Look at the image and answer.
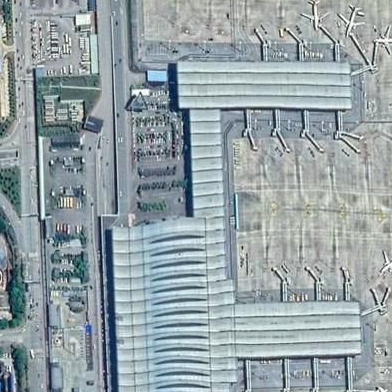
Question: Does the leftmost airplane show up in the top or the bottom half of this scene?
top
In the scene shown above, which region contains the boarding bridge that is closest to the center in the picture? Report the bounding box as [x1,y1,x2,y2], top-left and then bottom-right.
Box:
[245,109,257,150]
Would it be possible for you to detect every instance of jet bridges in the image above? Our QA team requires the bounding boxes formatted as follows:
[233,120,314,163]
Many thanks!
[304,266,321,302]
[245,359,250,392]
[254,27,267,60]
[301,110,324,153]
[318,23,339,60]
[335,110,365,154]
[270,266,286,303]
[360,287,390,317]
[284,26,303,60]
[347,357,378,392]
[245,109,257,150]
[283,359,289,392]
[340,266,349,302]
[274,110,290,153]
[312,358,318,392]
